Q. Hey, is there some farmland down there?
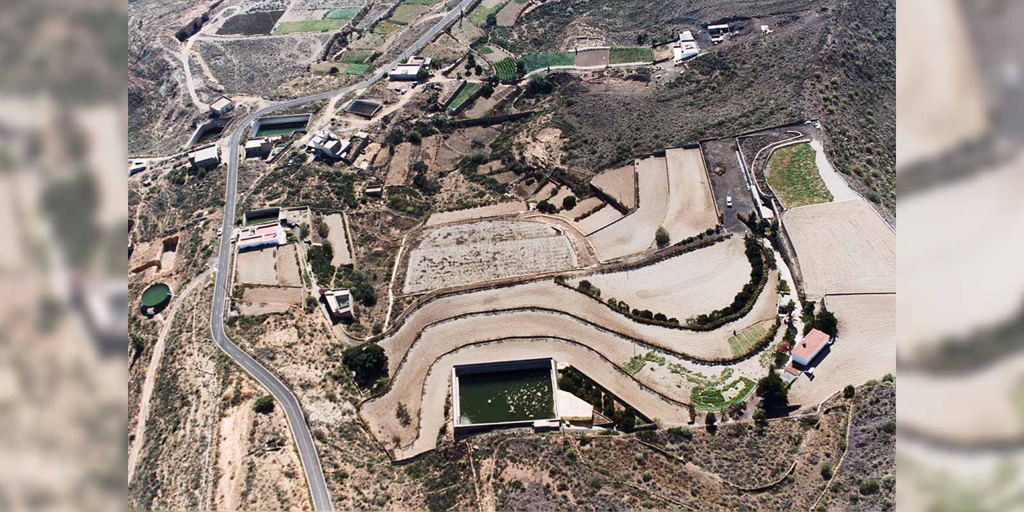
Yes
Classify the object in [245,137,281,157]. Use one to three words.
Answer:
house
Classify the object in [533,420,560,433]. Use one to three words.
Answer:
shed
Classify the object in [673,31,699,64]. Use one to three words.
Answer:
house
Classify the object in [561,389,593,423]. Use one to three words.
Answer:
shed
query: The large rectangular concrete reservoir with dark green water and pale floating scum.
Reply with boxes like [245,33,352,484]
[452,358,561,434]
